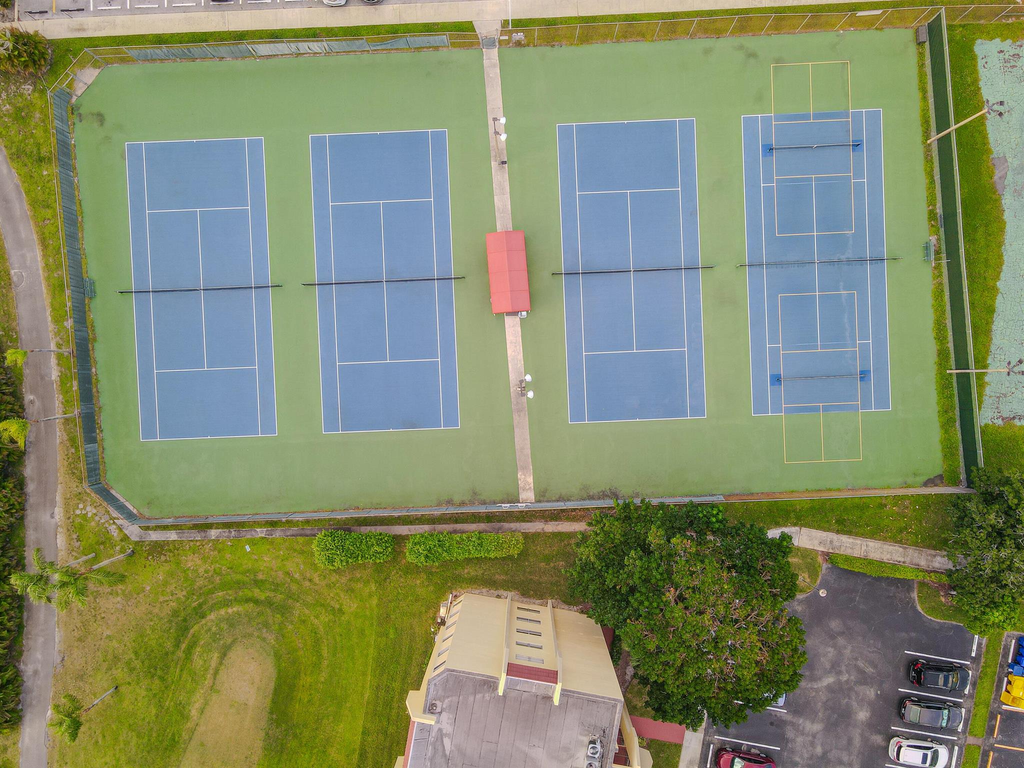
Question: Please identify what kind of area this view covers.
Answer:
sports ground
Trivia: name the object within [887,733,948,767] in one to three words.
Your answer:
car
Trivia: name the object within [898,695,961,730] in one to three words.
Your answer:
car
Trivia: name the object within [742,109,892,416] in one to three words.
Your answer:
tennis court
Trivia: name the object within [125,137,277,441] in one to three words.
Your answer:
tennis court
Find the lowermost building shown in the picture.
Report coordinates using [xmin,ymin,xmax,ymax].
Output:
[395,593,660,768]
